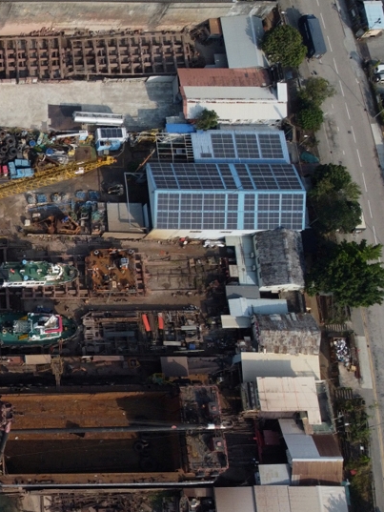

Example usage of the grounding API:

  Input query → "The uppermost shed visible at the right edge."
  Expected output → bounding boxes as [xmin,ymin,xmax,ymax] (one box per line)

[357,0,384,34]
